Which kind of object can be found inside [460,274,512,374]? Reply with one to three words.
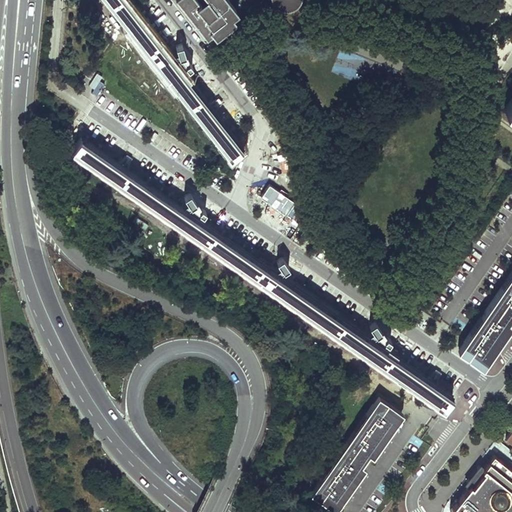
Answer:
building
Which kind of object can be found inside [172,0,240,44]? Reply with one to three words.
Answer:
building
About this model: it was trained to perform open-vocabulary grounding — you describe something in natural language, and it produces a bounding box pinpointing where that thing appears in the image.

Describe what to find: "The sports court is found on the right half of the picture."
[331,51,368,80]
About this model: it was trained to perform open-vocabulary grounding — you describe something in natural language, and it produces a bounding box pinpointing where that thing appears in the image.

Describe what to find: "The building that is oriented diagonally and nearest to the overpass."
[313,396,407,512]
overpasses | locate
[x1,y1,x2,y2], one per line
[197,466,242,512]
